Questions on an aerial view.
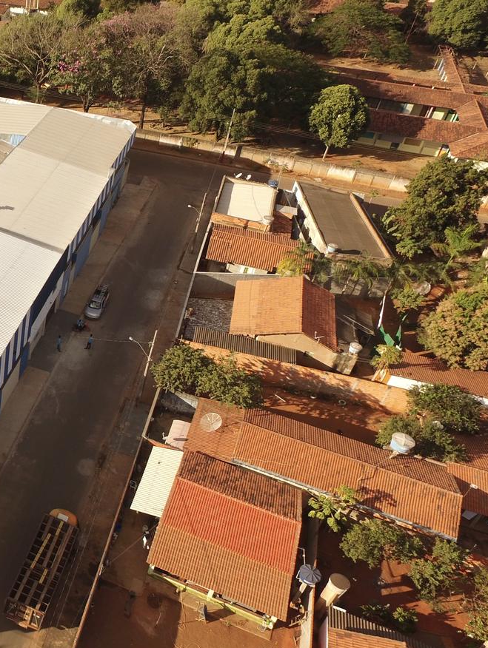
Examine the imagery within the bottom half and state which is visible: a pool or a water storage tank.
water storage tank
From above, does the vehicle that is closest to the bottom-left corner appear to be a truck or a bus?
bus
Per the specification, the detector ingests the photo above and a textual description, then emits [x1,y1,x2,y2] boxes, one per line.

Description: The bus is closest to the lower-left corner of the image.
[3,511,81,636]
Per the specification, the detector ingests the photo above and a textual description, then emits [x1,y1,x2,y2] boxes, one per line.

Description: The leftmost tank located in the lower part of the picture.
[287,563,328,612]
